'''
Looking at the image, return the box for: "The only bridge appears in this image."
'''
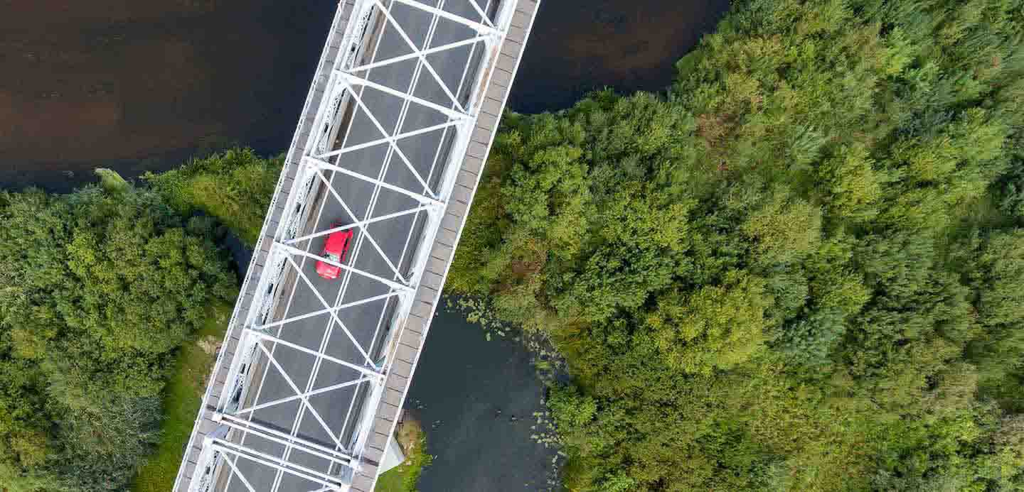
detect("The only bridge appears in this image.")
[172,0,542,492]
